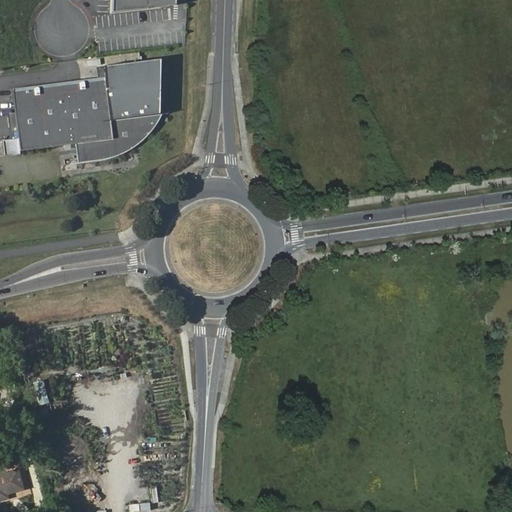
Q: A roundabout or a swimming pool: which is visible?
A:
roundabout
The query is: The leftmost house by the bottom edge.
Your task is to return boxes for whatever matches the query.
[0,468,31,504]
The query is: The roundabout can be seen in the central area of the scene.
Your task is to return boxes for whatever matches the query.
[145,178,285,315]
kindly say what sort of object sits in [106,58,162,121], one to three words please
building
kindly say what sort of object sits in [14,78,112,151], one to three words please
building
